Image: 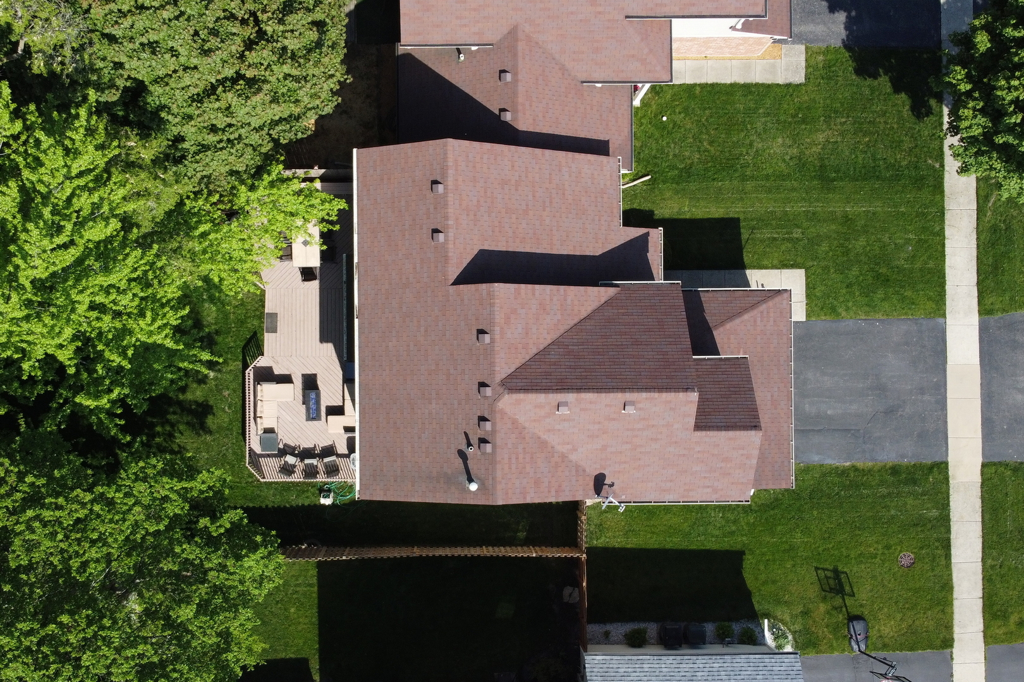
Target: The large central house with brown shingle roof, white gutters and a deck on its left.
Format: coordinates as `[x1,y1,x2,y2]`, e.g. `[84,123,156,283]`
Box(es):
[347,139,795,505]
